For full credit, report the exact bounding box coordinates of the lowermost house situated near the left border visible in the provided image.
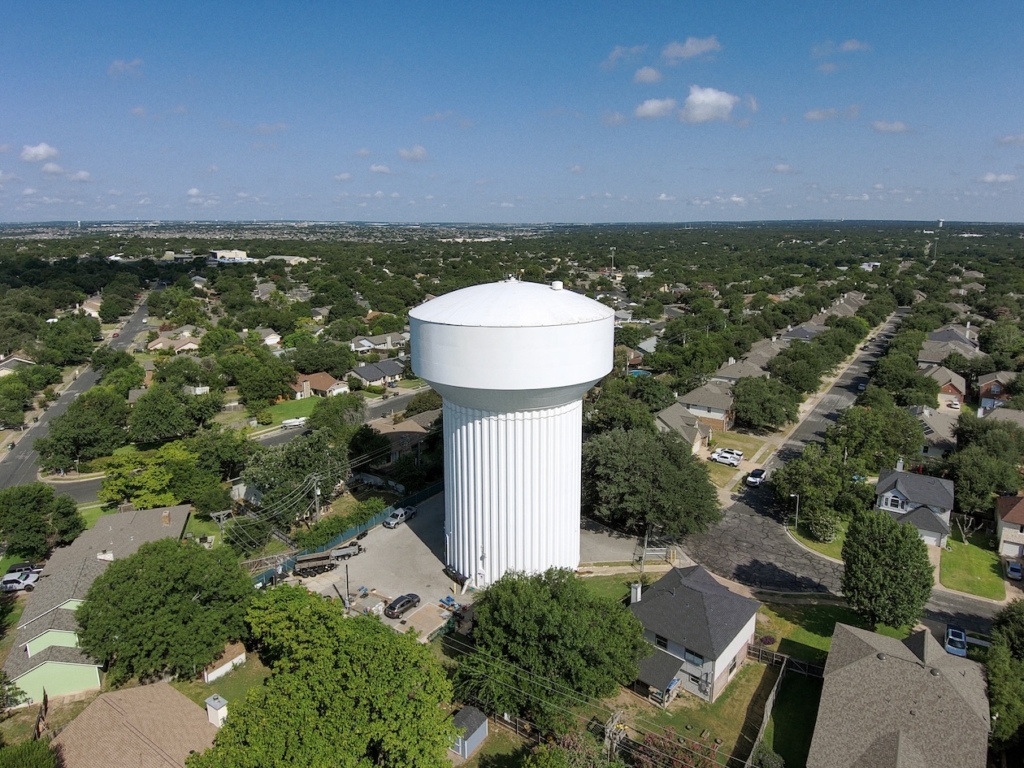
[51,683,248,768]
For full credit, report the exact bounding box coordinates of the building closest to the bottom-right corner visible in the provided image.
[806,623,1000,768]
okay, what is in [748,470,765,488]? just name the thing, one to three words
car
